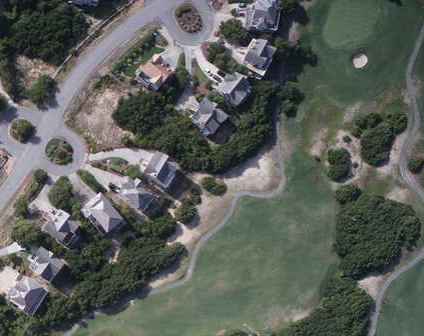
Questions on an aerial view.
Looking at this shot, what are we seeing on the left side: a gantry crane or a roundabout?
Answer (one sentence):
What appears on the left side is a roundabout.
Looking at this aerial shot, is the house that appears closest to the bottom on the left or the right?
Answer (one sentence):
The house that appears closest to the bottom sits on the left side.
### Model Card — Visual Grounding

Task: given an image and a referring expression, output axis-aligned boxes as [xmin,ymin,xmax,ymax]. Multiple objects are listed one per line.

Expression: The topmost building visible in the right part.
[243,0,283,33]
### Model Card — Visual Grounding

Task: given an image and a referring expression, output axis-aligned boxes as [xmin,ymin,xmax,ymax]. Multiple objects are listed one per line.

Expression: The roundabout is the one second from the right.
[32,124,88,177]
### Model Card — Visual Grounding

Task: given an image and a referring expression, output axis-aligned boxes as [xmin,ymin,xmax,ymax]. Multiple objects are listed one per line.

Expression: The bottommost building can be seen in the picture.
[6,272,50,315]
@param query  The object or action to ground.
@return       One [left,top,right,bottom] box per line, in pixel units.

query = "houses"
[242,36,274,80]
[28,245,67,282]
[6,272,50,315]
[208,68,253,110]
[186,95,232,136]
[40,205,83,252]
[79,191,126,235]
[243,0,283,33]
[140,150,181,189]
[116,176,157,215]
[133,52,174,88]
